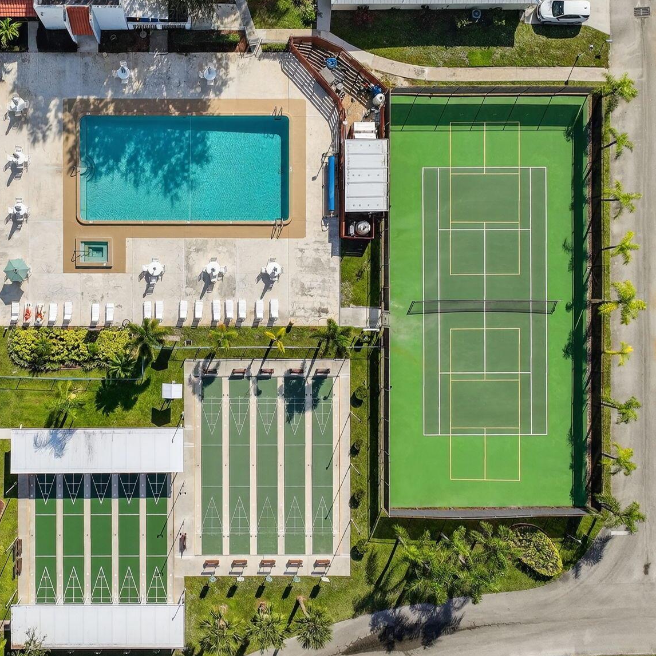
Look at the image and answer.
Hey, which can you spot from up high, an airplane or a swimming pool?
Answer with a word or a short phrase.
swimming pool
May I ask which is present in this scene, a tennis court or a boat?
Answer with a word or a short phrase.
tennis court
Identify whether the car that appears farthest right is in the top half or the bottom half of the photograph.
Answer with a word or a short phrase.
top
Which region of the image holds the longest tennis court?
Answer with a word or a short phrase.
right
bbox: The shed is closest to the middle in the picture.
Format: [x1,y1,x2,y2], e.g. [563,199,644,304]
[343,139,388,212]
